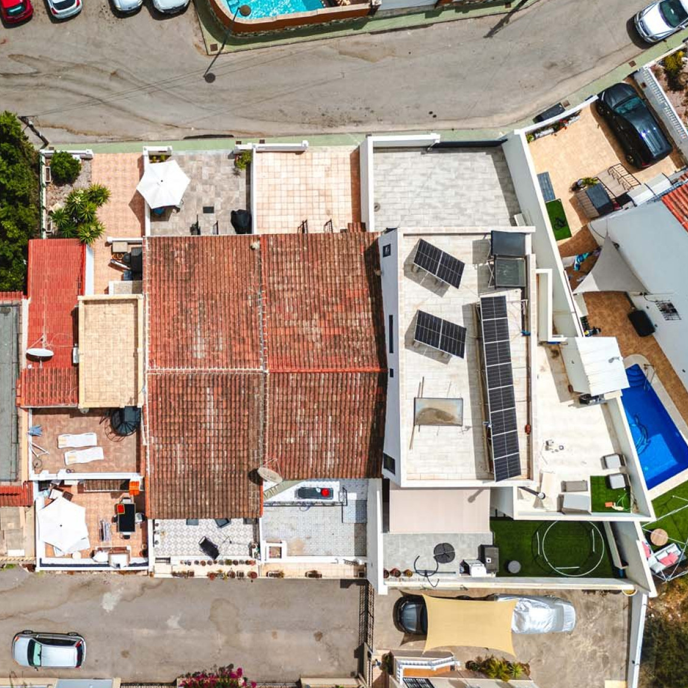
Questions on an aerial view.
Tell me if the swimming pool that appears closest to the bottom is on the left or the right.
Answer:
right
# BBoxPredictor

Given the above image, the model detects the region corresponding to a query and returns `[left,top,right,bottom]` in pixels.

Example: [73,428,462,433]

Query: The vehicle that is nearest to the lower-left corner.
[12,628,86,672]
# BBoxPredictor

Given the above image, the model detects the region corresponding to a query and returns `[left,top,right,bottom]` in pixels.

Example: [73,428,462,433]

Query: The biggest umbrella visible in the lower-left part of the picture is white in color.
[37,496,87,554]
